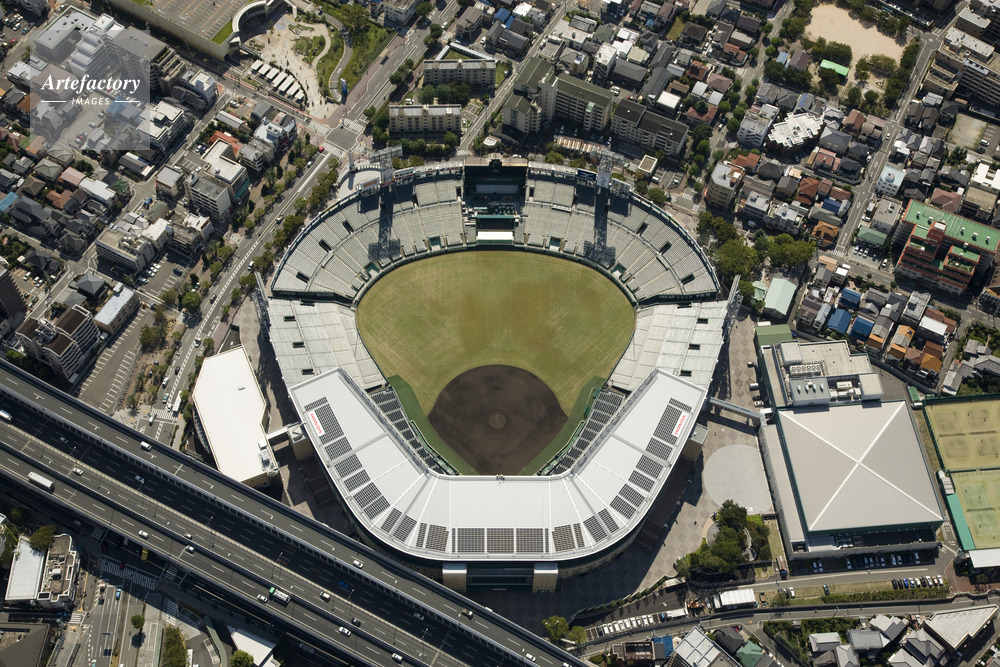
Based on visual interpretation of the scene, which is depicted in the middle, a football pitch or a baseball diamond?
baseball diamond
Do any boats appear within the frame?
No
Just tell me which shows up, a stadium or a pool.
stadium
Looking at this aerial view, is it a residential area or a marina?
residential area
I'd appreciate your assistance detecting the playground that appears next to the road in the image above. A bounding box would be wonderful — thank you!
[806,5,903,84]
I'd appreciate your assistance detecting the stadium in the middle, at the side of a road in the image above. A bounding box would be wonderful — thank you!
[266,162,727,591]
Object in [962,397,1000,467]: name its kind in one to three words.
tennis court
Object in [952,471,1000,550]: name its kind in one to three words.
tennis court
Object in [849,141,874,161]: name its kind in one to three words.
house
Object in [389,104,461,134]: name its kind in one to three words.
building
